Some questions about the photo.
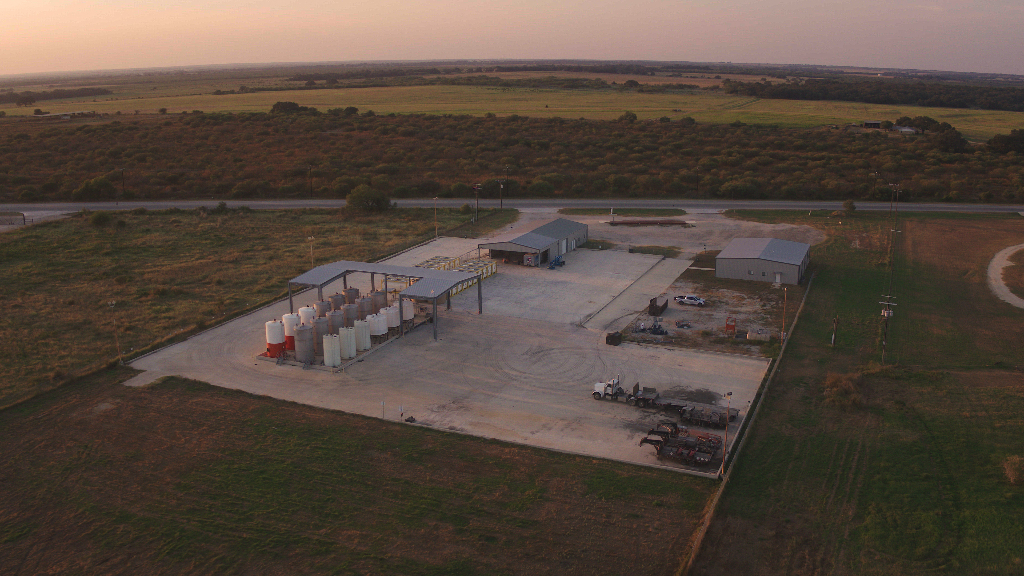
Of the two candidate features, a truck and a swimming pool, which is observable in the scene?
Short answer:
truck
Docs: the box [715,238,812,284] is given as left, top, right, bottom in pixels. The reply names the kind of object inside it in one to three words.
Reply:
building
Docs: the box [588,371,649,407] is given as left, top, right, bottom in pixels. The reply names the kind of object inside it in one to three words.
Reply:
truck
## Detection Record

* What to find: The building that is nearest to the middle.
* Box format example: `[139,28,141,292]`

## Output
[477,218,588,267]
